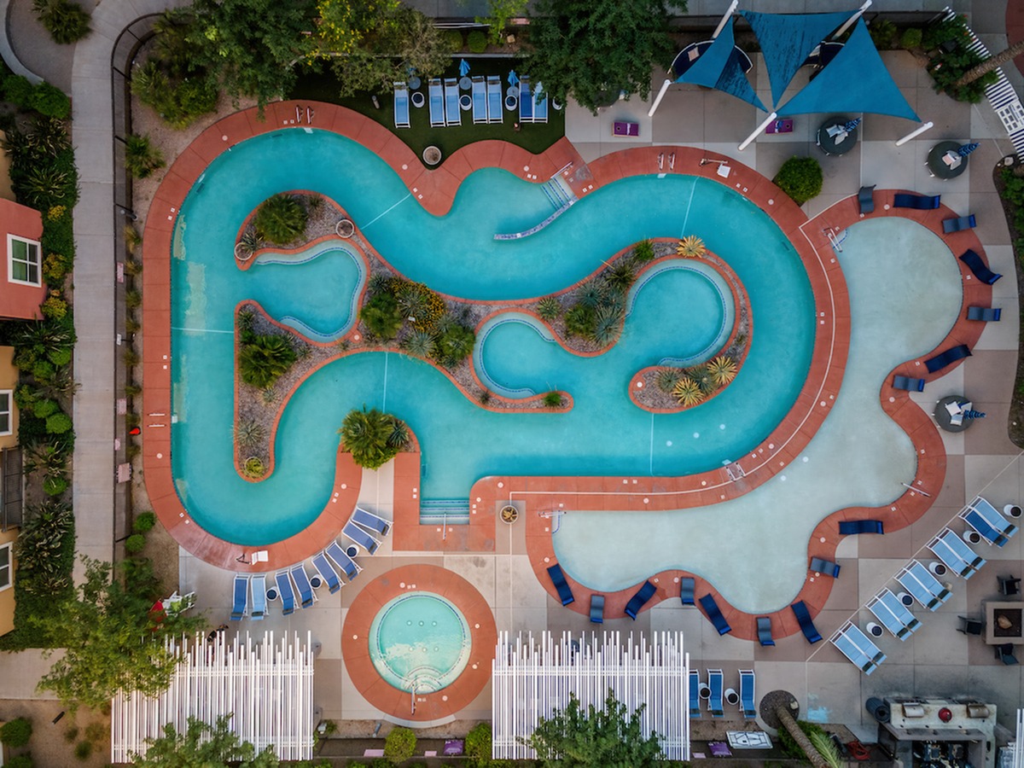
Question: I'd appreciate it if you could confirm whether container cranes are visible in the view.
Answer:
No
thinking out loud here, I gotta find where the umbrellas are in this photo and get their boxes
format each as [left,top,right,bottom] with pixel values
[954,408,986,419]
[456,59,472,91]
[836,116,861,136]
[506,68,521,98]
[947,143,978,162]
